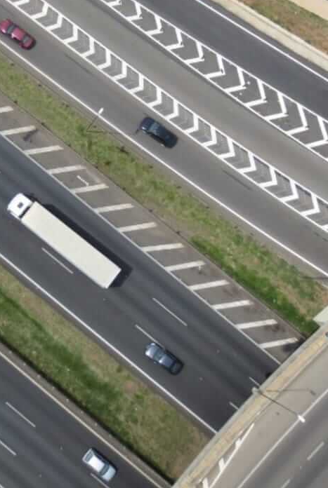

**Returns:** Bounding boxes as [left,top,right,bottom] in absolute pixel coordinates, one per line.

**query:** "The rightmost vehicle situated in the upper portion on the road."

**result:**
[139,116,178,148]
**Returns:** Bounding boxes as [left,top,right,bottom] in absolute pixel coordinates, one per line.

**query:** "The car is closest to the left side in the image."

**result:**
[0,18,35,50]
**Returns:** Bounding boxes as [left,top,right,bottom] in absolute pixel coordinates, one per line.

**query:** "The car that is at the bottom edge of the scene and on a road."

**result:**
[82,447,116,481]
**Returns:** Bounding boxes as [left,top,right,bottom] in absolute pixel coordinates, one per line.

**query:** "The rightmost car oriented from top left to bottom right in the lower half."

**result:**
[146,341,183,375]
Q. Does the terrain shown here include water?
No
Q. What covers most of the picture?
paved ground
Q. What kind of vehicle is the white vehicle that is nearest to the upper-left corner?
truck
